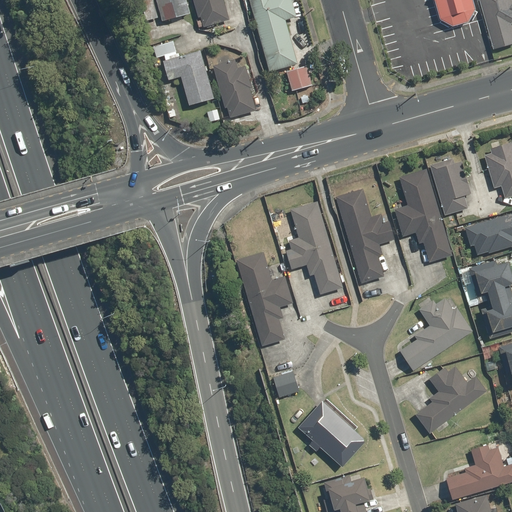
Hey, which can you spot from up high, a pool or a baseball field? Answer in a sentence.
There is a pool in the scene.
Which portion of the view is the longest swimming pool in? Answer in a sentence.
The longest swimming pool is located in the right region of the scene.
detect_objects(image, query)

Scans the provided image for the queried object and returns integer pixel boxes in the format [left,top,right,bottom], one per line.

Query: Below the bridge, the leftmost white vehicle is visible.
[42,412,54,432]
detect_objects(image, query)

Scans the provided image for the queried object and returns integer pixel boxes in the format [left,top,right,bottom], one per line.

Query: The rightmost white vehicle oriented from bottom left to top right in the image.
[407,320,424,334]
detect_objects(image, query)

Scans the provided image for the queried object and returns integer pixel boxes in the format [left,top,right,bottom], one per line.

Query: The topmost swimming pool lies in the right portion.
[459,268,483,306]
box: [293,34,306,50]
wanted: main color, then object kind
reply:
gray vehicle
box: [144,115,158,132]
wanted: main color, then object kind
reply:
white vehicle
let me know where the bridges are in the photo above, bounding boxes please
[0,172,122,268]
